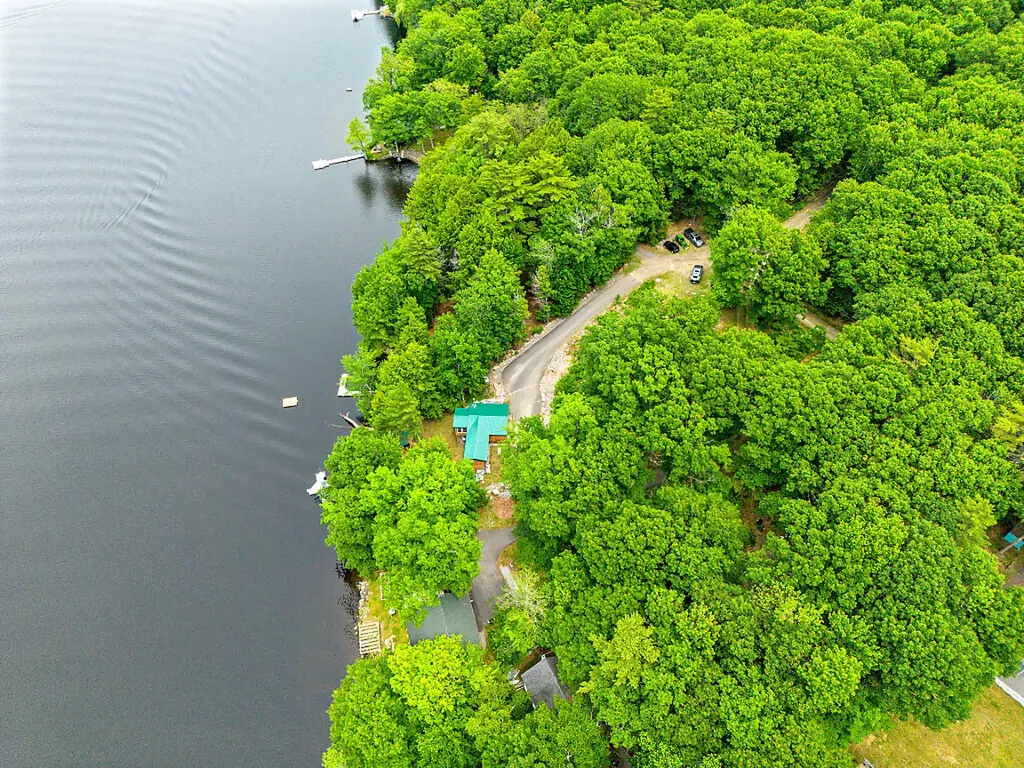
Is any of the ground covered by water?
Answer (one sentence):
Yes, some water is visible.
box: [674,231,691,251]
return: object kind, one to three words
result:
work vehicle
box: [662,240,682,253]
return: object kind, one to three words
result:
vehicle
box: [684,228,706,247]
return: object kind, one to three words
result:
vehicle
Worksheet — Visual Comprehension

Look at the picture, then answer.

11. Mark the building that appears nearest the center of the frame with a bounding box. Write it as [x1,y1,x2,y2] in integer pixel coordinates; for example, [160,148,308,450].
[453,403,509,468]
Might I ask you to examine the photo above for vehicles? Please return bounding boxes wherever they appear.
[662,240,682,253]
[691,266,702,283]
[684,228,706,247]
[674,231,691,251]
